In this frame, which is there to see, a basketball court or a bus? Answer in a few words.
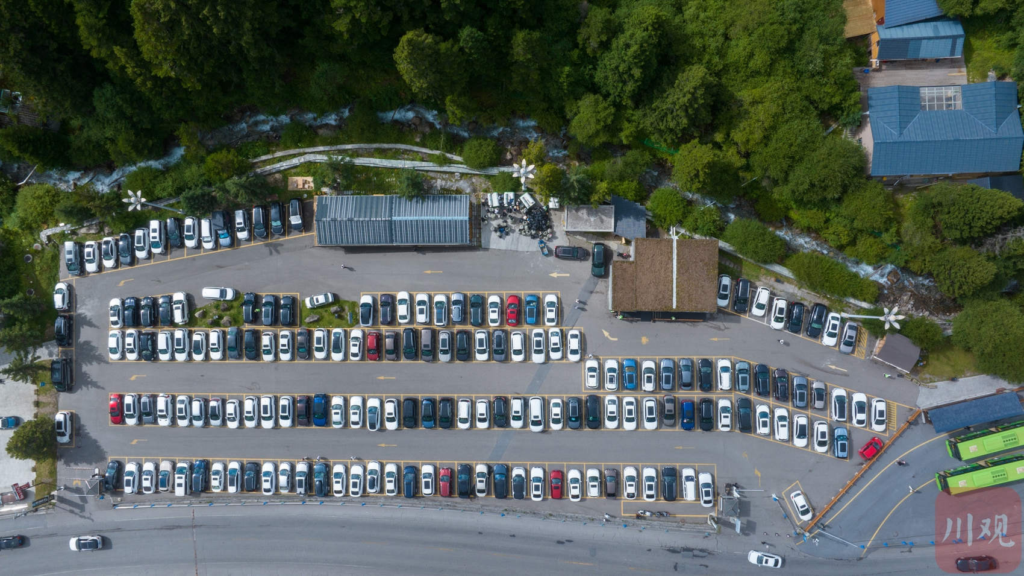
bus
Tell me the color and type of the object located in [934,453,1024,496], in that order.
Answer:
green bus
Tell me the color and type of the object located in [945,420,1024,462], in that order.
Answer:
green bus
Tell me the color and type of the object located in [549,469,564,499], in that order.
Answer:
red car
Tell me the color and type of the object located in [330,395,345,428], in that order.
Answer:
white car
